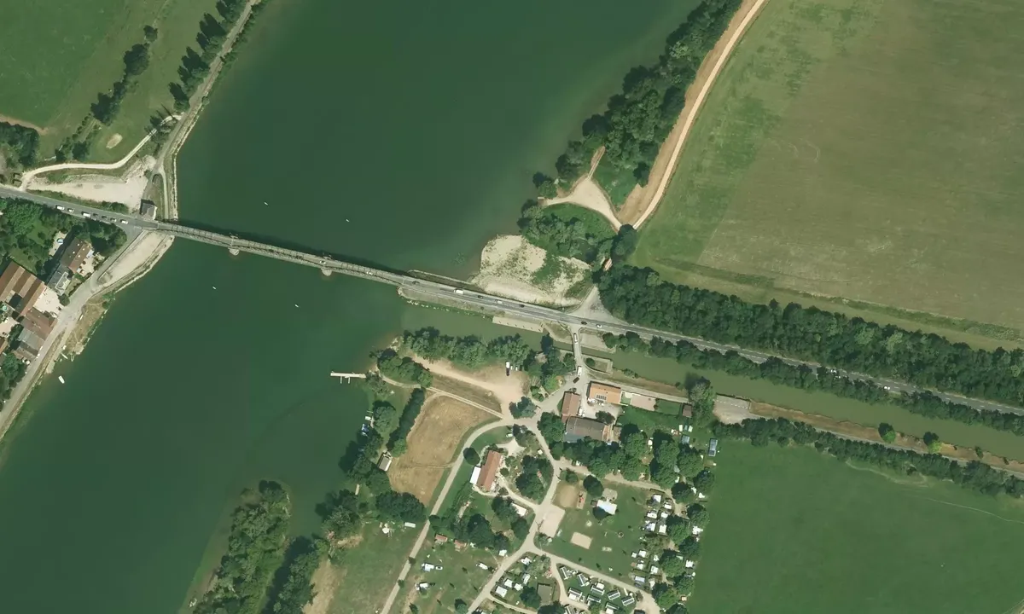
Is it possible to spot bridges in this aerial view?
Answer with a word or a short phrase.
Yes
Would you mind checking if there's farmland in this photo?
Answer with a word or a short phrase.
Yes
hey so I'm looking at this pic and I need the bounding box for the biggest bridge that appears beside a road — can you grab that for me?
[163,222,409,289]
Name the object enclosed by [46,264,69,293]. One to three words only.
house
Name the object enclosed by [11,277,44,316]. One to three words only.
house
